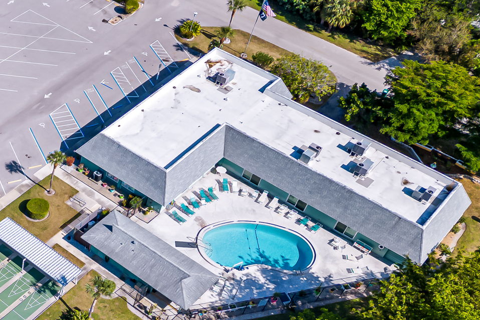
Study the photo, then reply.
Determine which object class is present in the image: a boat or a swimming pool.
swimming pool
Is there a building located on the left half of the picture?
Yes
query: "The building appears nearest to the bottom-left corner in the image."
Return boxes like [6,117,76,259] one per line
[0,215,83,299]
